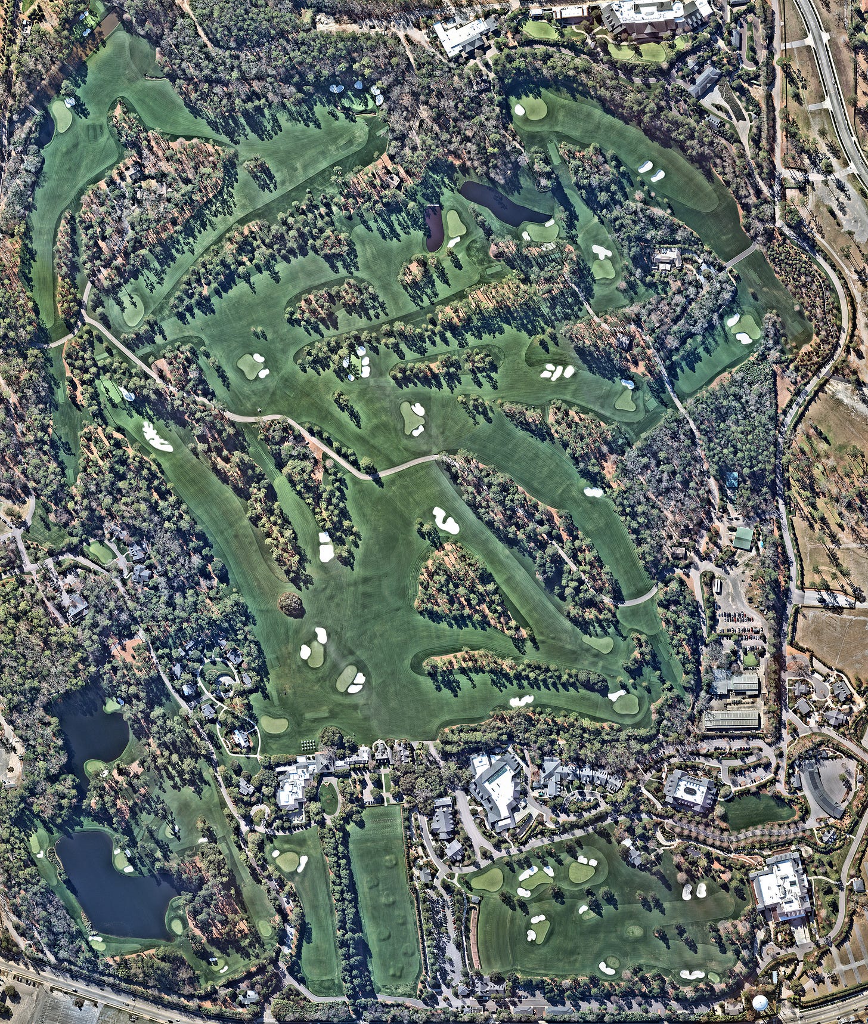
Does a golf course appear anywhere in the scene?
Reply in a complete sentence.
Yes, there's a golf course here.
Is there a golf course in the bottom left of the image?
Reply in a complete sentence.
Yes, looking in the bottom left of the image, one can make out a golf course.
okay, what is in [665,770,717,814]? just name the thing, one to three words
building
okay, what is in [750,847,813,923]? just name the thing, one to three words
building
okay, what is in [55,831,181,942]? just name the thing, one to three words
pond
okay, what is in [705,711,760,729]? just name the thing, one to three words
shed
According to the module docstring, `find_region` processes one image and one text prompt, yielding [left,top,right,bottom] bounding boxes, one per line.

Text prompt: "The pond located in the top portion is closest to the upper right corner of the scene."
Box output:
[460,181,553,228]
